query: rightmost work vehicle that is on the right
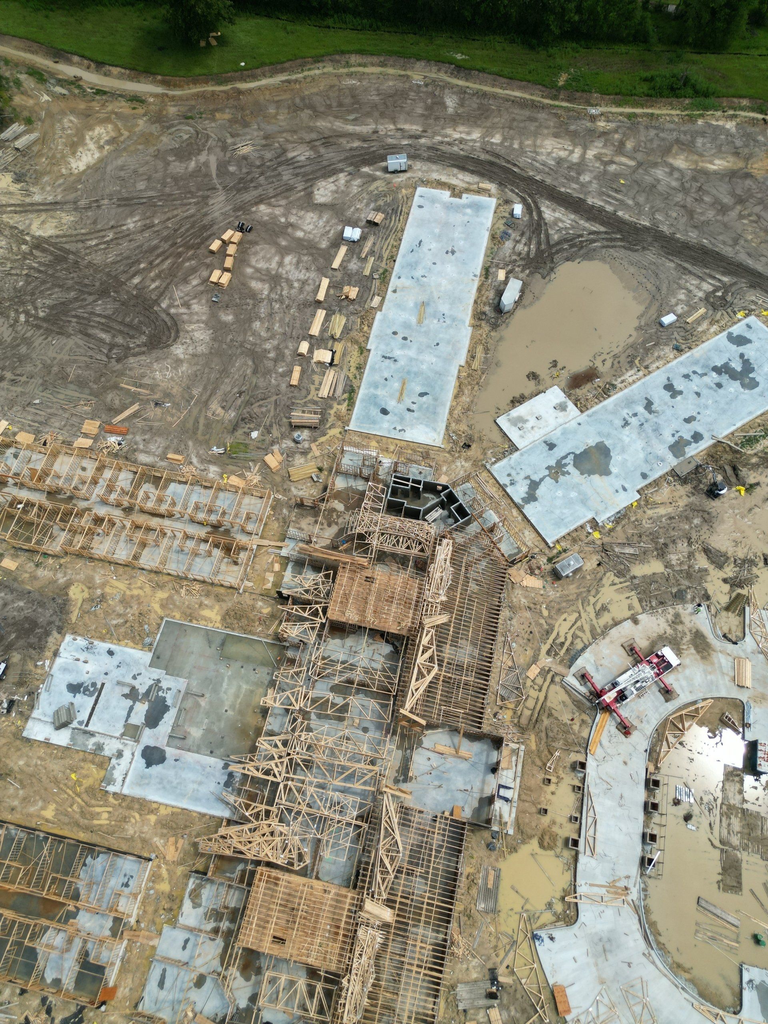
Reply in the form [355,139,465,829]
[697,463,726,499]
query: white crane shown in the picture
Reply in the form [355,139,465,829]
[576,639,688,730]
